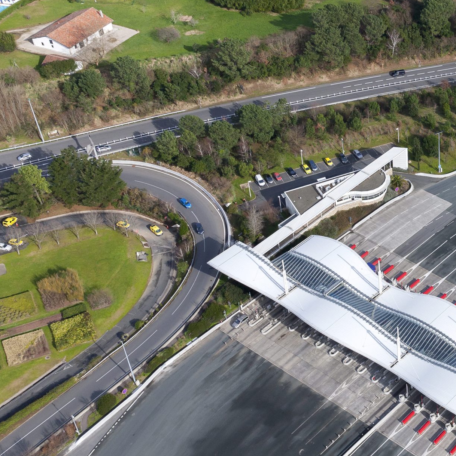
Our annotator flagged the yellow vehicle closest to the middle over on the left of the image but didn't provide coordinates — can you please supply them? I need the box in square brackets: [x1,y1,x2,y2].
[150,223,163,236]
